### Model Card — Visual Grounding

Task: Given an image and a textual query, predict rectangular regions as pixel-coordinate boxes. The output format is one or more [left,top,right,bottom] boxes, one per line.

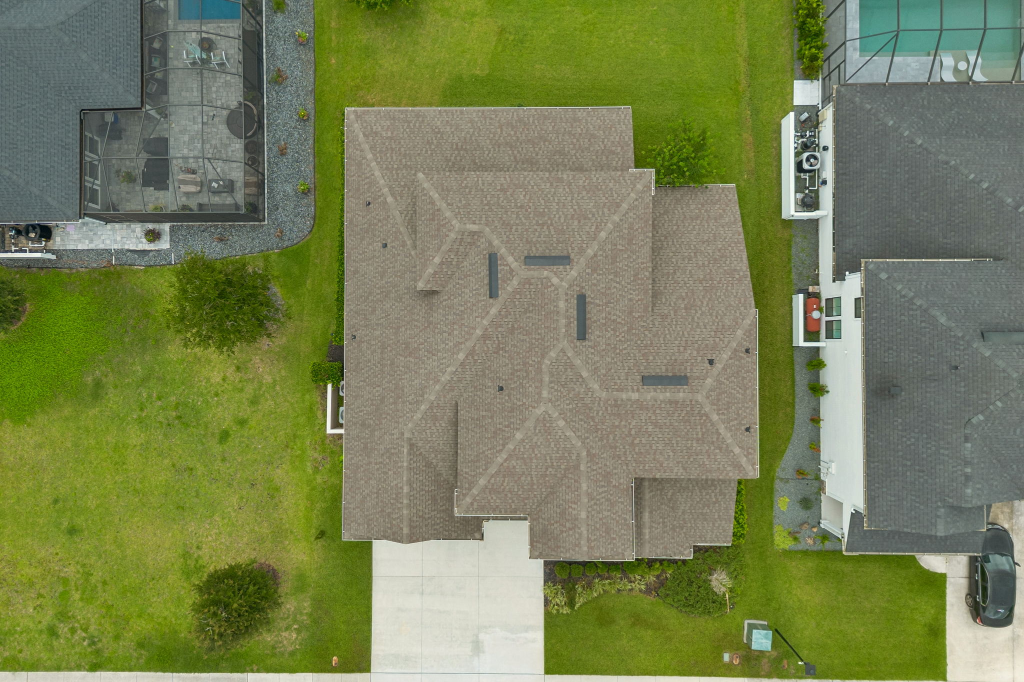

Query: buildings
[0,0,167,229]
[343,107,759,562]
[818,82,1024,556]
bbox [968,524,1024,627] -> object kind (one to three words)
car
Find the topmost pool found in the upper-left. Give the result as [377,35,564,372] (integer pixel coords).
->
[174,0,242,23]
